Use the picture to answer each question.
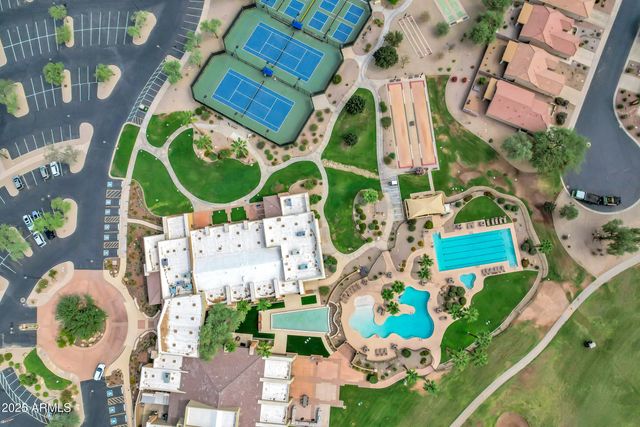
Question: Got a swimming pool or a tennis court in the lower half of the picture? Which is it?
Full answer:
Looking in the lower half of the picture, you will find a swimming pool.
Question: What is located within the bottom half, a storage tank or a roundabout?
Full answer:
You can see a roundabout within the bottom half.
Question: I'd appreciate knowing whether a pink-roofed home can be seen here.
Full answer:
Yes, the image includes a pink-roofed home.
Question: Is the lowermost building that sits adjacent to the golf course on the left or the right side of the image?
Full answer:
The lowermost building that sits adjacent to the golf course appears in the left half of the scene.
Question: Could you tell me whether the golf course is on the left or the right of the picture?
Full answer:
The golf course is on the right side of the image.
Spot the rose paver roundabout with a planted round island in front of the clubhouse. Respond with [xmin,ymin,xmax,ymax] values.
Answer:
[37,269,128,381]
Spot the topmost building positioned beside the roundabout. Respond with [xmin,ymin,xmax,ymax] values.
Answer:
[144,193,325,357]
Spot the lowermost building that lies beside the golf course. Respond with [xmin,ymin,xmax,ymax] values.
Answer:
[135,348,299,427]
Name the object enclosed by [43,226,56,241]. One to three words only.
vehicle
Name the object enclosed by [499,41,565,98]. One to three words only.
house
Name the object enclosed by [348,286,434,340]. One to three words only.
swimming pool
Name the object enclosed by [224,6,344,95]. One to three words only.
tennis court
